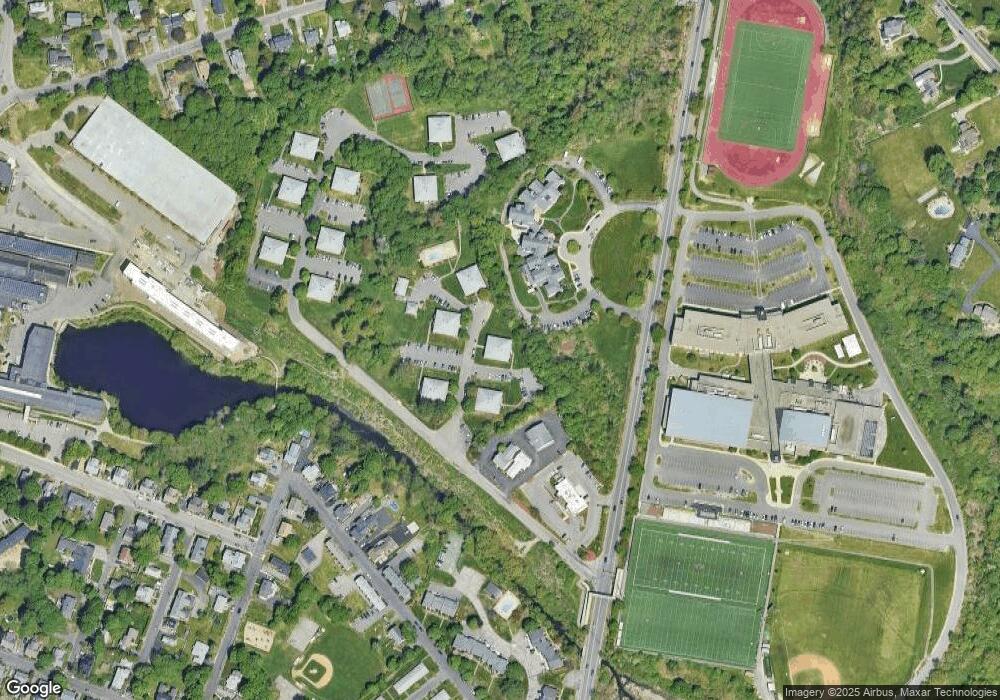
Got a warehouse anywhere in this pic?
Yes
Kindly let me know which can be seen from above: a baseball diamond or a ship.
baseball diamond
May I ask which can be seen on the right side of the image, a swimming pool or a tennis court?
swimming pool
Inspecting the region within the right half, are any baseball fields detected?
Yes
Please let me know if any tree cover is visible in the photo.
Yes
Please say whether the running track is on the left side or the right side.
right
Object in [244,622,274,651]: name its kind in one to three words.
playground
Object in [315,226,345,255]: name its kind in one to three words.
building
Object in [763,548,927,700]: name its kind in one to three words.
baseball field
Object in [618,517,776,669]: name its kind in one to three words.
sports field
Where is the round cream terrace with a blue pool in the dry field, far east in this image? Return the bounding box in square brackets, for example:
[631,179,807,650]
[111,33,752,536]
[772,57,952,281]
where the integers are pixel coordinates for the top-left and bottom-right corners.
[929,195,954,218]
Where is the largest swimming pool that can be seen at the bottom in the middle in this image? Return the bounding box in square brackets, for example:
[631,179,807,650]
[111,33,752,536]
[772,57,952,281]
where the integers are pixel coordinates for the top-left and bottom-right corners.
[494,592,521,620]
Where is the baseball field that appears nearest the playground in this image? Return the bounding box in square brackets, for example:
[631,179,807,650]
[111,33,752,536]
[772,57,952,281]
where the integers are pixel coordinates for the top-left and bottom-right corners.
[292,653,336,700]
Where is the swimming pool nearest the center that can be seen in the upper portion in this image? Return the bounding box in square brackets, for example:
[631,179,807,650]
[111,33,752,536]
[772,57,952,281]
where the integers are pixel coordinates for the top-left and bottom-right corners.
[420,240,457,267]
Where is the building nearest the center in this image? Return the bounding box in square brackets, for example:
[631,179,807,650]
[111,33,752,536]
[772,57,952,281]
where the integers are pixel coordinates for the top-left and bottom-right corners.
[483,335,513,361]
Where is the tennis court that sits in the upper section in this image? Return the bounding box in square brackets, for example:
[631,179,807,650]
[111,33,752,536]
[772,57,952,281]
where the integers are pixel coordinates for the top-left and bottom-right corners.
[366,75,413,120]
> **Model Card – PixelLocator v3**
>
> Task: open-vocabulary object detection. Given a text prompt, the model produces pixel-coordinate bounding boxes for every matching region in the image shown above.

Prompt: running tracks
[703,0,832,187]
